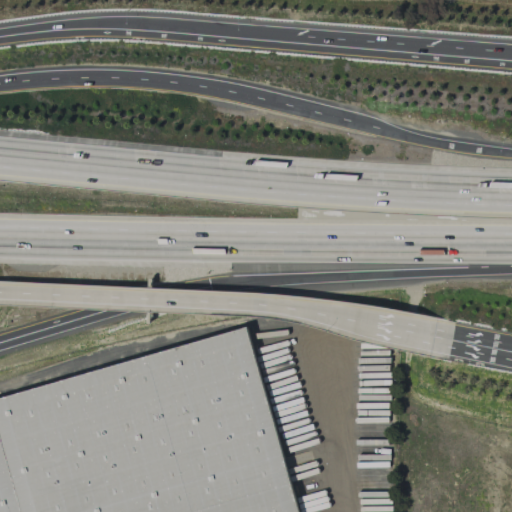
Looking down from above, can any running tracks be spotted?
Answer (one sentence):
No, I can't see a single running track in this photo.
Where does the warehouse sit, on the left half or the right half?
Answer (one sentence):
It is on the left.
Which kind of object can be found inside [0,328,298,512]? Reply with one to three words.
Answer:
warehouse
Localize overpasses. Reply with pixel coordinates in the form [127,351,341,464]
[0,278,454,360]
